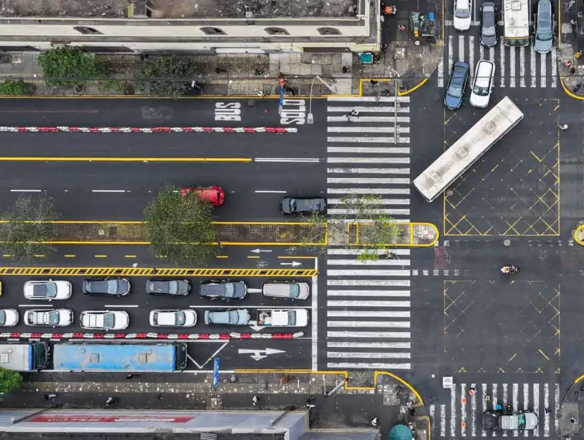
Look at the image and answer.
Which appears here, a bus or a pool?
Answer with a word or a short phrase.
bus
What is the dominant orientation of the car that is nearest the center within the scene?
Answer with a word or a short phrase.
from left to right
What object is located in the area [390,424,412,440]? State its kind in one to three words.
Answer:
umbrella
